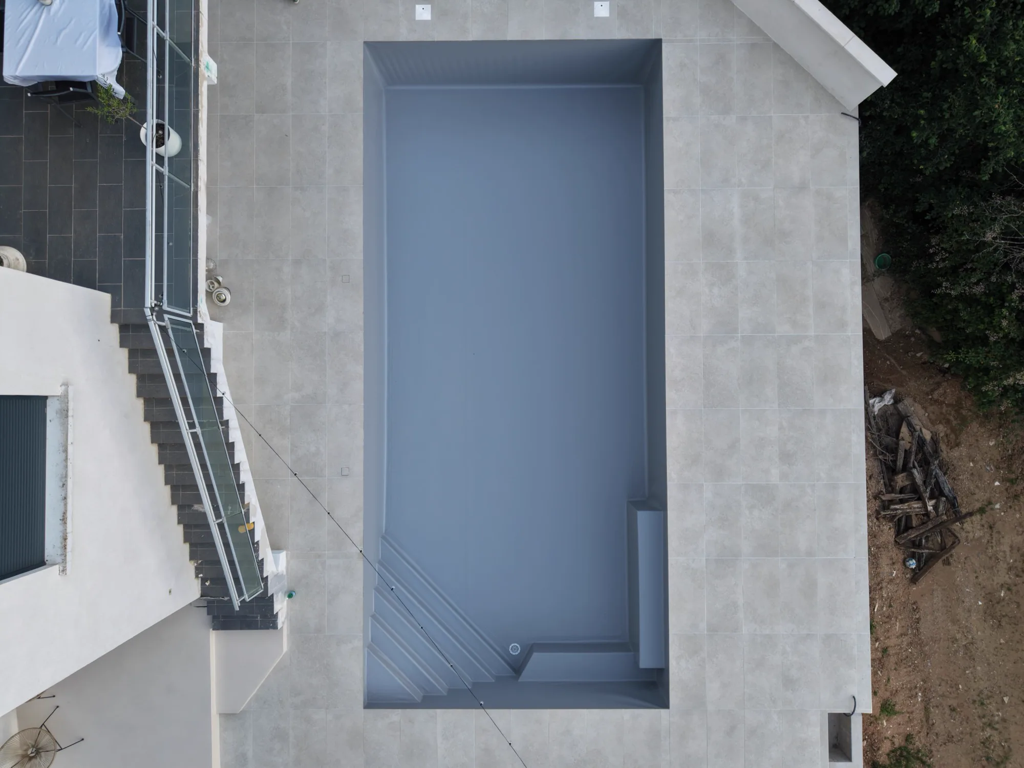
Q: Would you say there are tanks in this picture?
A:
No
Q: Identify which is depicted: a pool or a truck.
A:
pool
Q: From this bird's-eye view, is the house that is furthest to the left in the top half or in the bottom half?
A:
bottom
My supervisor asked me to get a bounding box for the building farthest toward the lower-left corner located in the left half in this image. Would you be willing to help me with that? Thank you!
[0,269,200,768]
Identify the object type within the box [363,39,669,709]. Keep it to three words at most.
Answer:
swimming pool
